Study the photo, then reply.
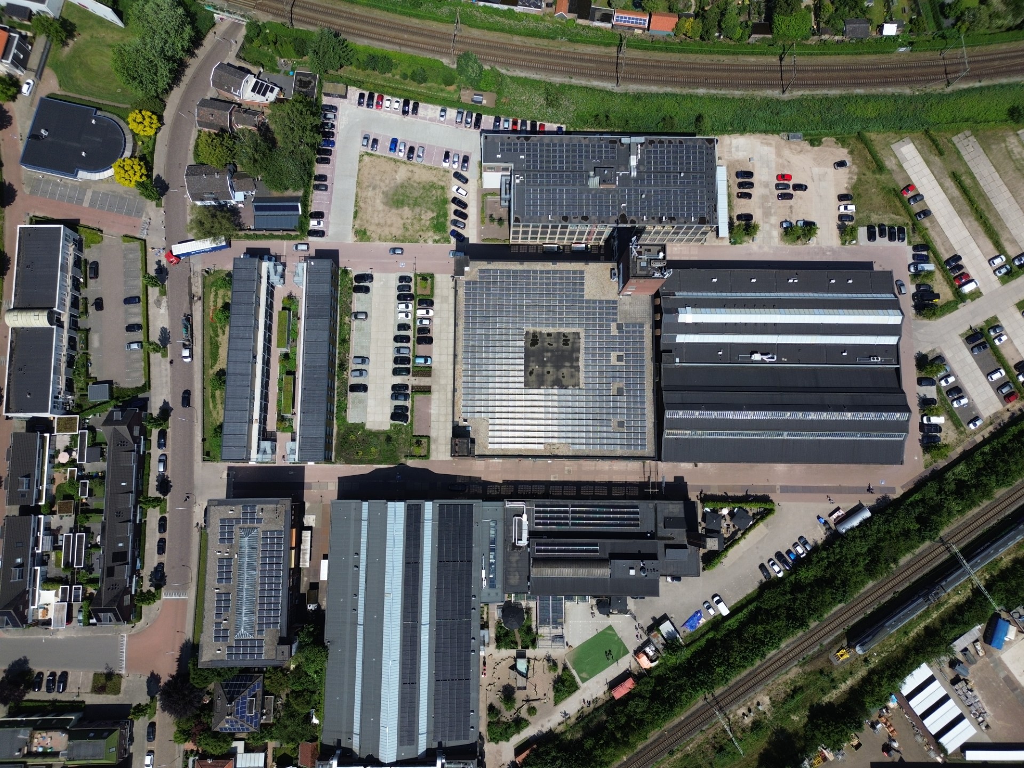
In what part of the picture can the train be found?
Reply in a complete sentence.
The train is located in the bottom right region of the scene.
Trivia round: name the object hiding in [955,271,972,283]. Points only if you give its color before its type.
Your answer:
red vehicle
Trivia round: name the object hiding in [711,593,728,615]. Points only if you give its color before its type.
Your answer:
white vehicle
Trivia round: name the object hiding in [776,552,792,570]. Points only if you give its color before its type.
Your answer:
black car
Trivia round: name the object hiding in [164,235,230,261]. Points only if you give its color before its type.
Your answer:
white truck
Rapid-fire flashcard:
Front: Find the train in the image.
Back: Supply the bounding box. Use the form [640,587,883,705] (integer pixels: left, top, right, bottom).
[854,517,1024,649]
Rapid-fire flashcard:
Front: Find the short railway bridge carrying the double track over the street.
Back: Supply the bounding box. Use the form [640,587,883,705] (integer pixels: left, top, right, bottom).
[204,0,270,27]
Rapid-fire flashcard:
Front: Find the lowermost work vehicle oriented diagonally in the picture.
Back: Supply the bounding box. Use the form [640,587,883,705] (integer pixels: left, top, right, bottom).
[876,737,894,757]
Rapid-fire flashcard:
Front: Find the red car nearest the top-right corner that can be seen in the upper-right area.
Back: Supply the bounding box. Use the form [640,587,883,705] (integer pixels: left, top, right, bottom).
[900,182,919,194]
